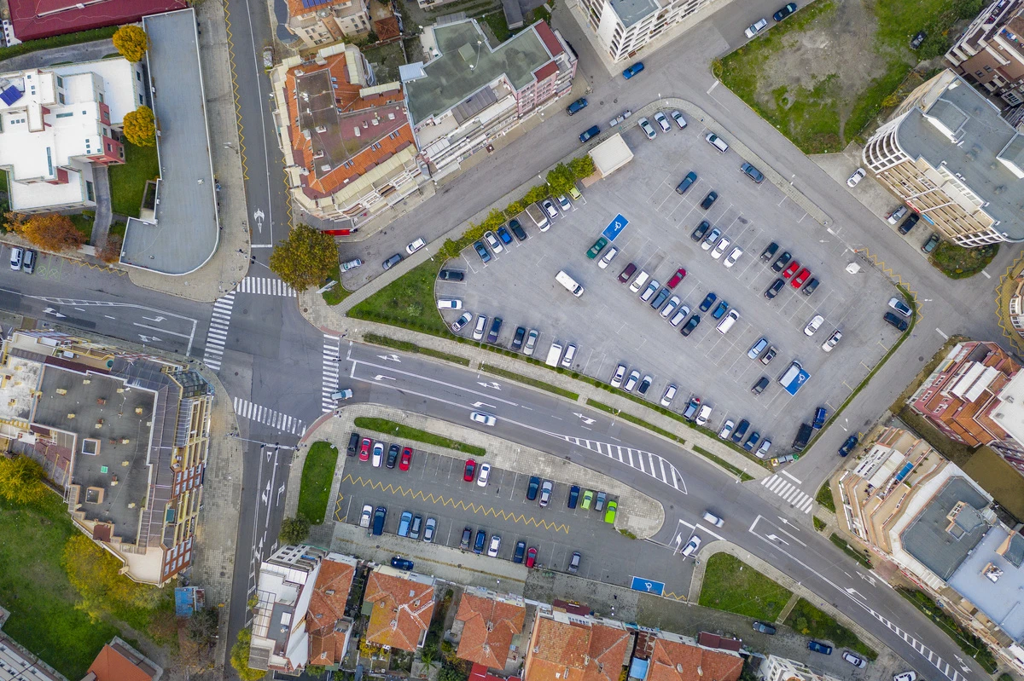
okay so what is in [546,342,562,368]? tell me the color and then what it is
white vehicle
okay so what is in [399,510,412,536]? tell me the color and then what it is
blue vehicle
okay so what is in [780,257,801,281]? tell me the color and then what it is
red car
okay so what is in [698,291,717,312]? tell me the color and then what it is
blue car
